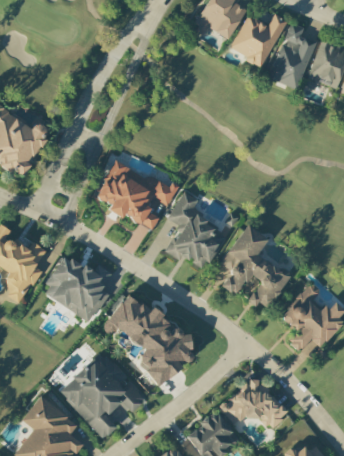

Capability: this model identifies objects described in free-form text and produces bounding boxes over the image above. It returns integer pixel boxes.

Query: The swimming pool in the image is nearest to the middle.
[206,200,227,221]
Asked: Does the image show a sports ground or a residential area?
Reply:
residential area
